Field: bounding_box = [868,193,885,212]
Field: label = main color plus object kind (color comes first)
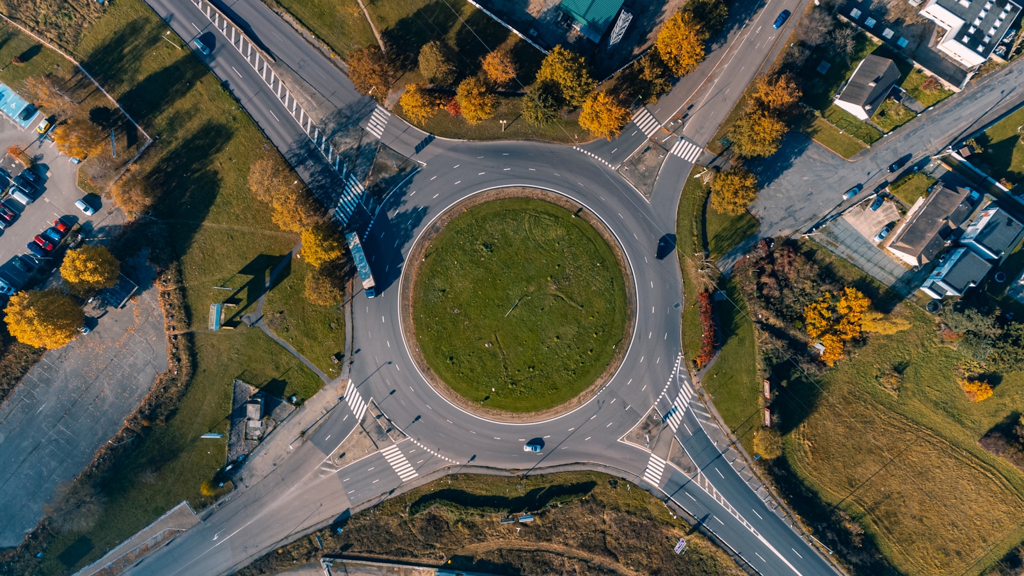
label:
blue car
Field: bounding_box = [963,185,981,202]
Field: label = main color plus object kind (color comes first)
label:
blue vehicle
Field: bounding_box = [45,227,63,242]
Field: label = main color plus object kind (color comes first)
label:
blue car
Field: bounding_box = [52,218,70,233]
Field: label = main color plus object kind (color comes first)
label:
red car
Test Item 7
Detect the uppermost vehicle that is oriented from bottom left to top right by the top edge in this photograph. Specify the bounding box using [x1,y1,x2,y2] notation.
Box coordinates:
[772,10,789,29]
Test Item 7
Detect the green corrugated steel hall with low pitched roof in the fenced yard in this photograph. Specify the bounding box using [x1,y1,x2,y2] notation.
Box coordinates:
[559,0,625,49]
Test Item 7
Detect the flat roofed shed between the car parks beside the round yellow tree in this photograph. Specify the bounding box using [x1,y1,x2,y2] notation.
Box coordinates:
[106,274,142,307]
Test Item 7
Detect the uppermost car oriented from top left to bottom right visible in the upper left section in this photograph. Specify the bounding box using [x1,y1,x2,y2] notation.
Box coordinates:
[193,37,212,56]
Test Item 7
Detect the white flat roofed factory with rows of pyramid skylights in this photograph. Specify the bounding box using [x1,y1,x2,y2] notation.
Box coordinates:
[923,0,1023,67]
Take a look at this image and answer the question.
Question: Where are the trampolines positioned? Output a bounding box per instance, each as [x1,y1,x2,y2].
[924,299,944,314]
